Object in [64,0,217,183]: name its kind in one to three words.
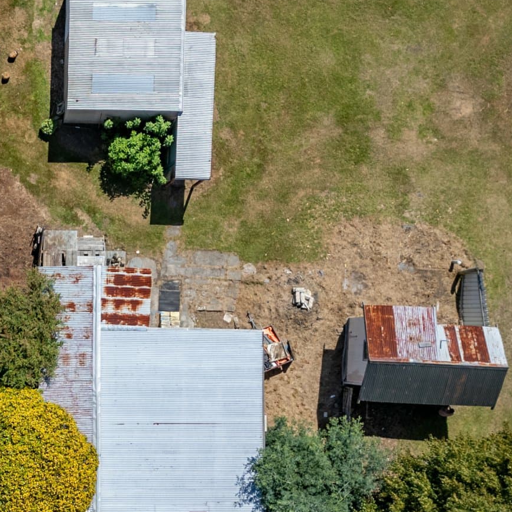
shed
